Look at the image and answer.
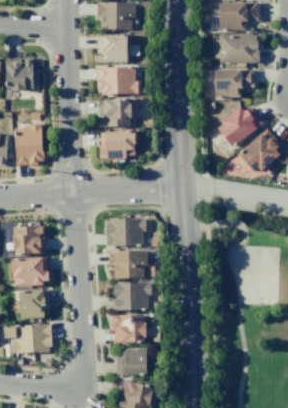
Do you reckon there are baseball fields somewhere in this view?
No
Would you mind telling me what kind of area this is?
residential area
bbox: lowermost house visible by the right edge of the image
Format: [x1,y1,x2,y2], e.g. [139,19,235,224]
[240,132,282,170]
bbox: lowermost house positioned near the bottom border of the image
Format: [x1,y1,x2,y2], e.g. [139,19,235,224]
[122,382,154,408]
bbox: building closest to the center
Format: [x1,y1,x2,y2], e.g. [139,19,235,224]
[106,218,148,246]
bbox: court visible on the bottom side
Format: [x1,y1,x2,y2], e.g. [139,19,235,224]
[230,244,282,304]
